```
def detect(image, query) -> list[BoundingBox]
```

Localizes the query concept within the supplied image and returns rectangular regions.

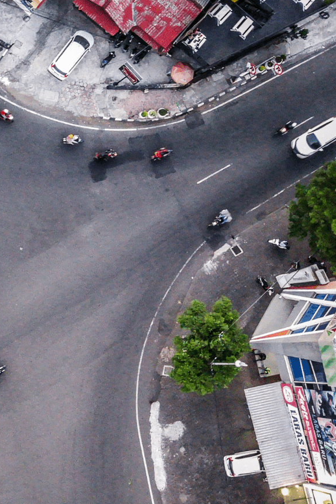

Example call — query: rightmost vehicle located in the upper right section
[287,111,336,158]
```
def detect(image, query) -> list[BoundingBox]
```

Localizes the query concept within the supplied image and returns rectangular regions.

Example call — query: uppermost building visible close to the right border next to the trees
[249,279,336,385]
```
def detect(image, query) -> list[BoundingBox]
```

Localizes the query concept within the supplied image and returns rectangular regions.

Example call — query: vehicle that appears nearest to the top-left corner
[48,30,92,82]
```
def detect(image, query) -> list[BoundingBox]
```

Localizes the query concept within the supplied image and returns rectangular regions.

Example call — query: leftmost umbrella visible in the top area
[170,64,192,85]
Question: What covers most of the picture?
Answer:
paved ground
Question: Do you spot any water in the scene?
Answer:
No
